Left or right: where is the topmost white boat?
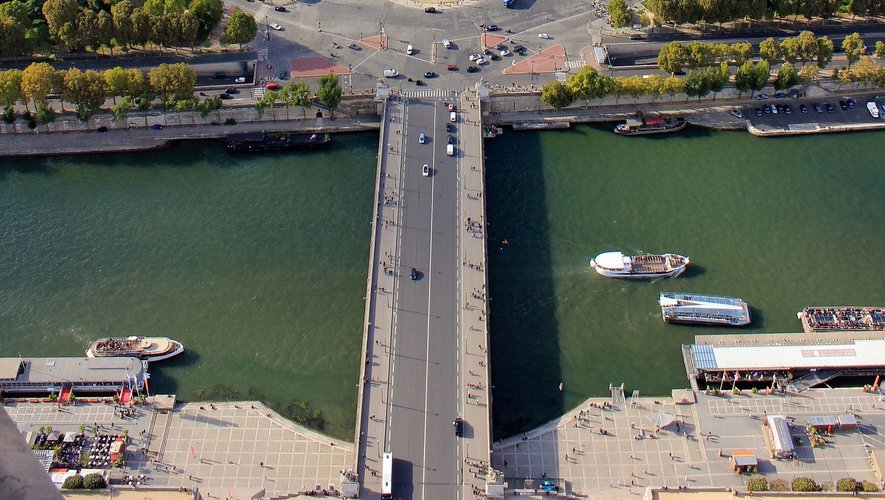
right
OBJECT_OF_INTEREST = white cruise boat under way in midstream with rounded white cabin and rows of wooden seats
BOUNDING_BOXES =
[590,254,691,277]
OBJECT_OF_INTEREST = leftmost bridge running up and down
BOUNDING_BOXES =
[353,96,493,500]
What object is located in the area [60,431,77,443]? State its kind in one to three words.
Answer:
umbrella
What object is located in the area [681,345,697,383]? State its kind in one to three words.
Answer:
pier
